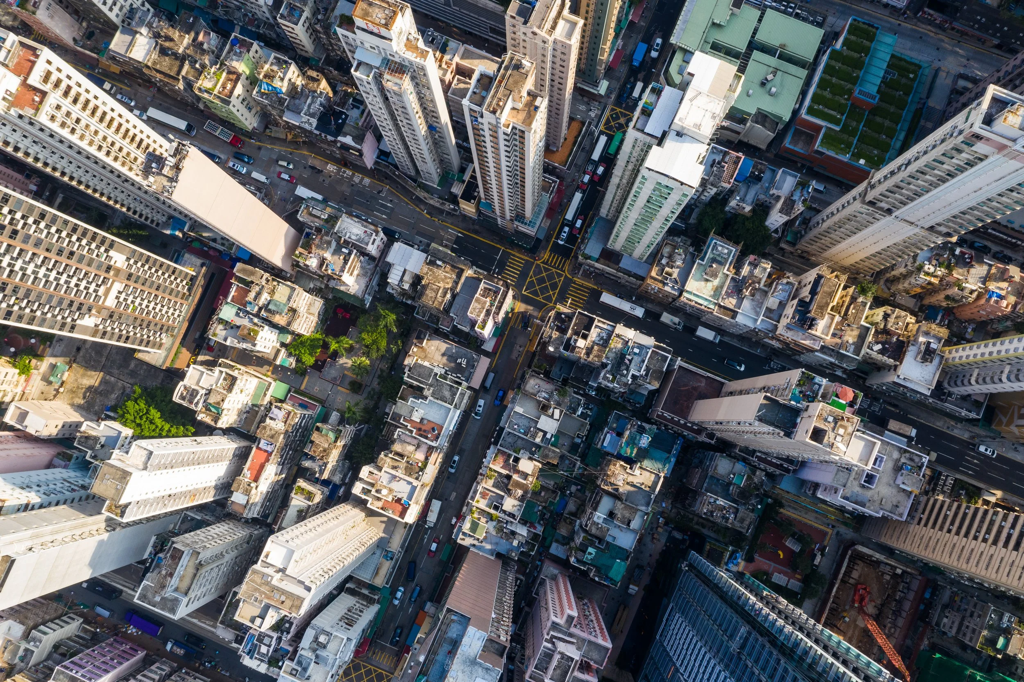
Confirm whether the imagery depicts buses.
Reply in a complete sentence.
Yes, a bus appears in the view.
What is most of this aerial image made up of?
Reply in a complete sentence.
The bulk of the photo consists of buildings.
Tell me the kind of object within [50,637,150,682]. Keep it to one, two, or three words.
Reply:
building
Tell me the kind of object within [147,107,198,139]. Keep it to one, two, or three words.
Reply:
bus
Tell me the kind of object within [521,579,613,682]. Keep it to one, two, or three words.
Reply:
building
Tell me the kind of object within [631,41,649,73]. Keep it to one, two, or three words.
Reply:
vehicle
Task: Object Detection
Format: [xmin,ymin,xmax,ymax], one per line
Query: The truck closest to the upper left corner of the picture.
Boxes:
[87,71,119,94]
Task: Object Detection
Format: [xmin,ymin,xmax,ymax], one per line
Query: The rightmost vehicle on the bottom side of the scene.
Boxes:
[972,445,995,459]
